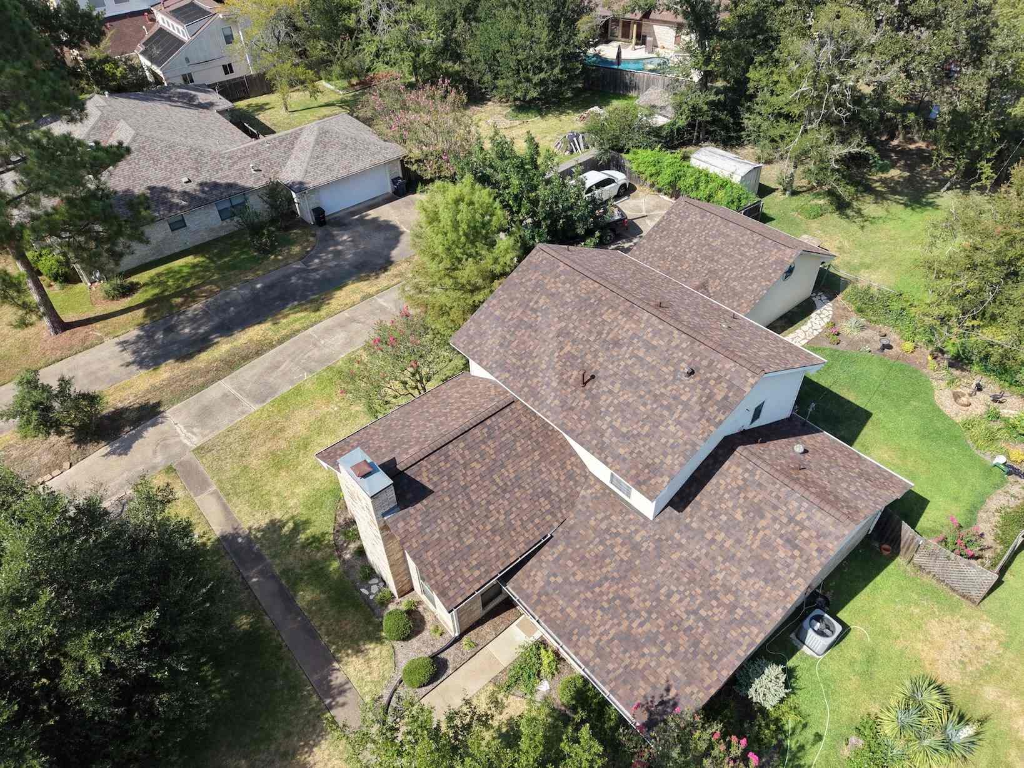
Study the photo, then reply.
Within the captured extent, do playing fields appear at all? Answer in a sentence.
No, no playing field is visible in the view.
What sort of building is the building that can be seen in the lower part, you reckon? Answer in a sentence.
Specifically, the building that can be seen in the lower part is a residential house.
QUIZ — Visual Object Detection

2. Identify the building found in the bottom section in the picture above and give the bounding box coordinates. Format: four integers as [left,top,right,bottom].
[314,242,914,748]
